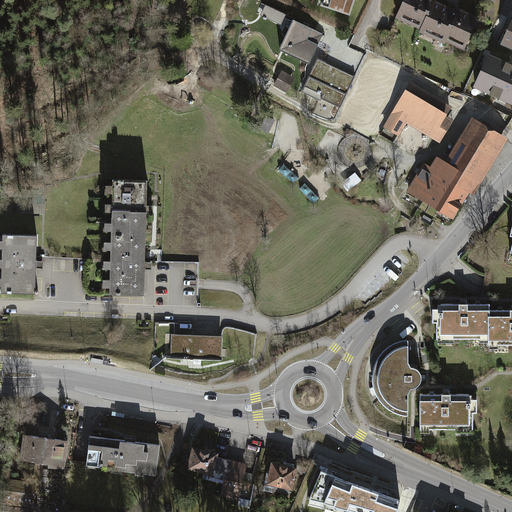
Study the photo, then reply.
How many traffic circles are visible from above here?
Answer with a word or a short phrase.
1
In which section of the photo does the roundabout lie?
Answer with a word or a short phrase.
bottom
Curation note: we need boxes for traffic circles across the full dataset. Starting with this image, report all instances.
[274,360,344,430]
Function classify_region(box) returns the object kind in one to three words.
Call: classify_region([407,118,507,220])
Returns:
barn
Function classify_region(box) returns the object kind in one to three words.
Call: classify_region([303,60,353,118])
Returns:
building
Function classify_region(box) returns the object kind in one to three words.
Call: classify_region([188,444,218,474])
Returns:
house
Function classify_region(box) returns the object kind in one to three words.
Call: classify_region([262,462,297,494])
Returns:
house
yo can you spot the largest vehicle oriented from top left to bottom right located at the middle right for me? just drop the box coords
[384,266,399,281]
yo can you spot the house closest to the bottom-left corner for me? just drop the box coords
[21,434,68,468]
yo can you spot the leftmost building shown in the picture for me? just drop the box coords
[0,234,44,294]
